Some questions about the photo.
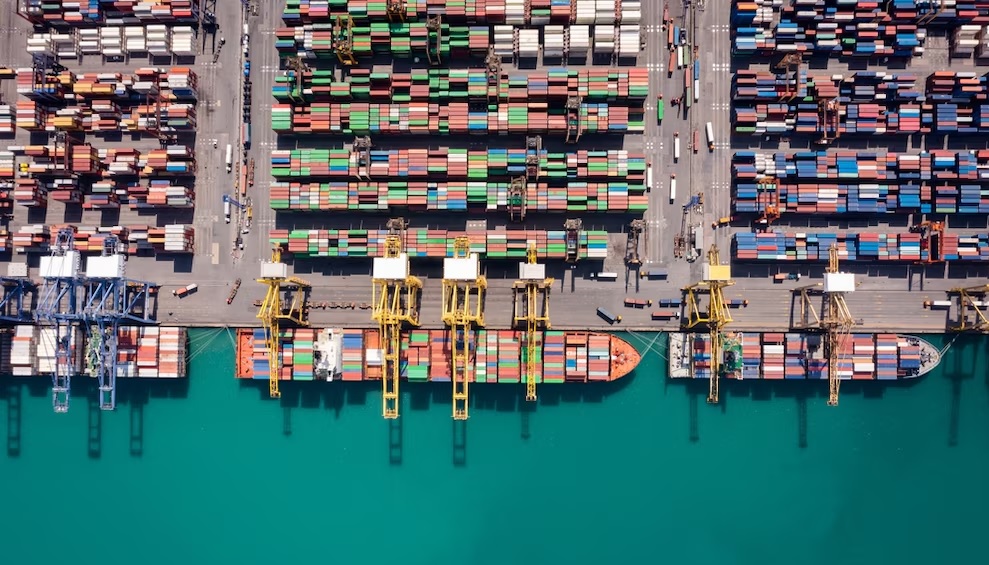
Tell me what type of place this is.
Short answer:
port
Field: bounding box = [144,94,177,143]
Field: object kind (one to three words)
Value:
container crane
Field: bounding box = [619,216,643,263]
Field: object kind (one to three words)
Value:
container crane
